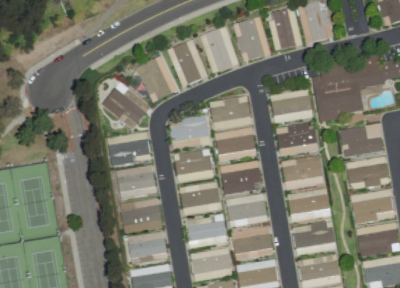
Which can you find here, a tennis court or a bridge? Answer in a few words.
tennis court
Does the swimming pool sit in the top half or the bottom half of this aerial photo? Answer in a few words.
top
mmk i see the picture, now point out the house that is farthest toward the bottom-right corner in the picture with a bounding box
[361,258,400,288]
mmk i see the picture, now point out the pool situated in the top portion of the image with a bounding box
[369,89,396,110]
